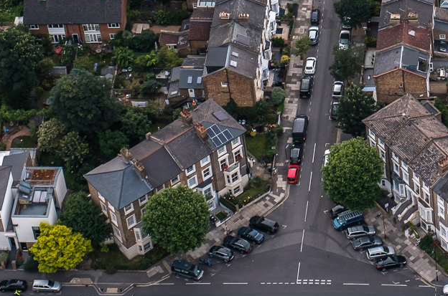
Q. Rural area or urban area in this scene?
urban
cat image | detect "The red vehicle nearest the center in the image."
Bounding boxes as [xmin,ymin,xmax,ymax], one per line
[284,164,302,184]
